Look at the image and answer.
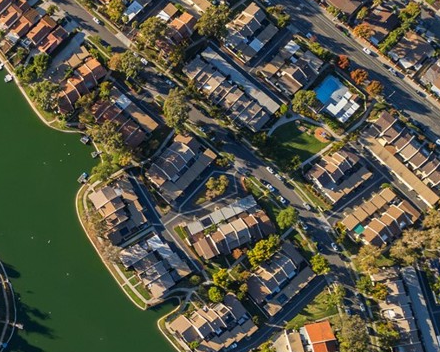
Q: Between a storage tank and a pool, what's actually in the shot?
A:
pool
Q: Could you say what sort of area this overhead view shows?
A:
residential area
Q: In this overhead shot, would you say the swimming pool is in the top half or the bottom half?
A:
top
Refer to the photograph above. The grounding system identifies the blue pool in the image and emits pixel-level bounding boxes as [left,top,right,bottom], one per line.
[315,74,341,104]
